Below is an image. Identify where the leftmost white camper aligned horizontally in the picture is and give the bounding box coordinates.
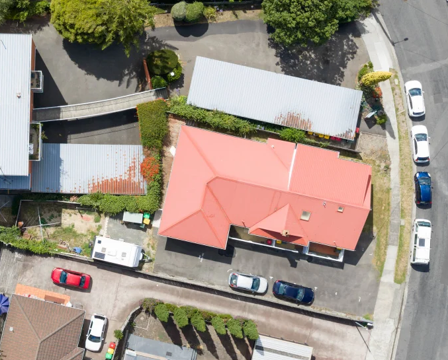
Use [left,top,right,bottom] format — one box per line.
[91,235,151,267]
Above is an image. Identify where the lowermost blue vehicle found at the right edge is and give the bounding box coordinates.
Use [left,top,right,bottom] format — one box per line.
[412,172,433,206]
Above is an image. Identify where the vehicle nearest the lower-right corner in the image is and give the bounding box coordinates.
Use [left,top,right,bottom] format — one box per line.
[409,219,436,268]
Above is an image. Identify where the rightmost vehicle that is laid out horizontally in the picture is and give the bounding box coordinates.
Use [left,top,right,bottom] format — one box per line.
[272,280,315,305]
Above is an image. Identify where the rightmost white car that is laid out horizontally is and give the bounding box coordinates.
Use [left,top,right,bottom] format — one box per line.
[227,273,269,295]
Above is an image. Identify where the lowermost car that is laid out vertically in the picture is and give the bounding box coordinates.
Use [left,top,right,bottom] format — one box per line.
[86,313,107,353]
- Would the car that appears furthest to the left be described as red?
Yes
